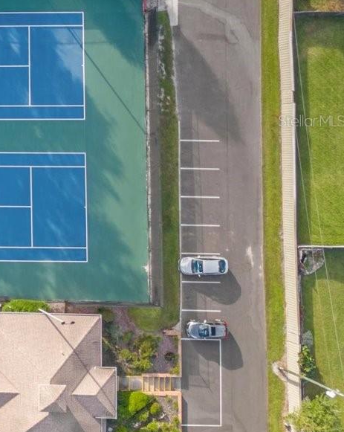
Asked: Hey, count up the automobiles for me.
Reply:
2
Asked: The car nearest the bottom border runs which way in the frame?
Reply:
horizontally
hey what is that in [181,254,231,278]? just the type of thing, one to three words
car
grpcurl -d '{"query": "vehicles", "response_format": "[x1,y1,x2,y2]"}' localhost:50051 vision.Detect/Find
[187,319,232,343]
[181,254,231,278]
